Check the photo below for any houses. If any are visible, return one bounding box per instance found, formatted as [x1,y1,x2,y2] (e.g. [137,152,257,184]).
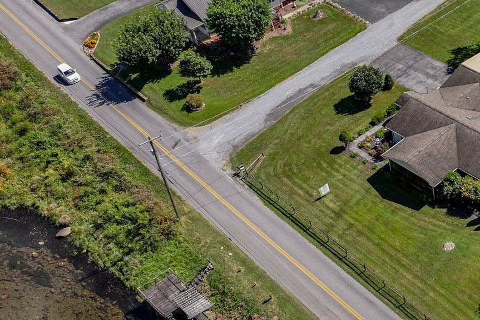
[162,0,289,51]
[381,54,480,198]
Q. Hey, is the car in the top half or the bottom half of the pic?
top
